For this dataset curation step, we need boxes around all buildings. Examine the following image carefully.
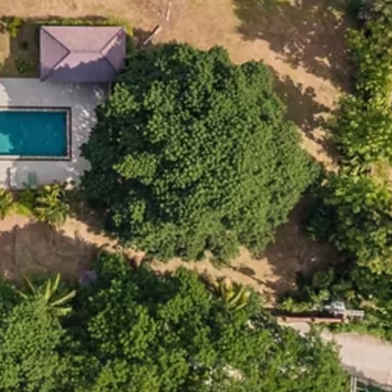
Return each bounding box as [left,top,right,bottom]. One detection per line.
[37,26,127,81]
